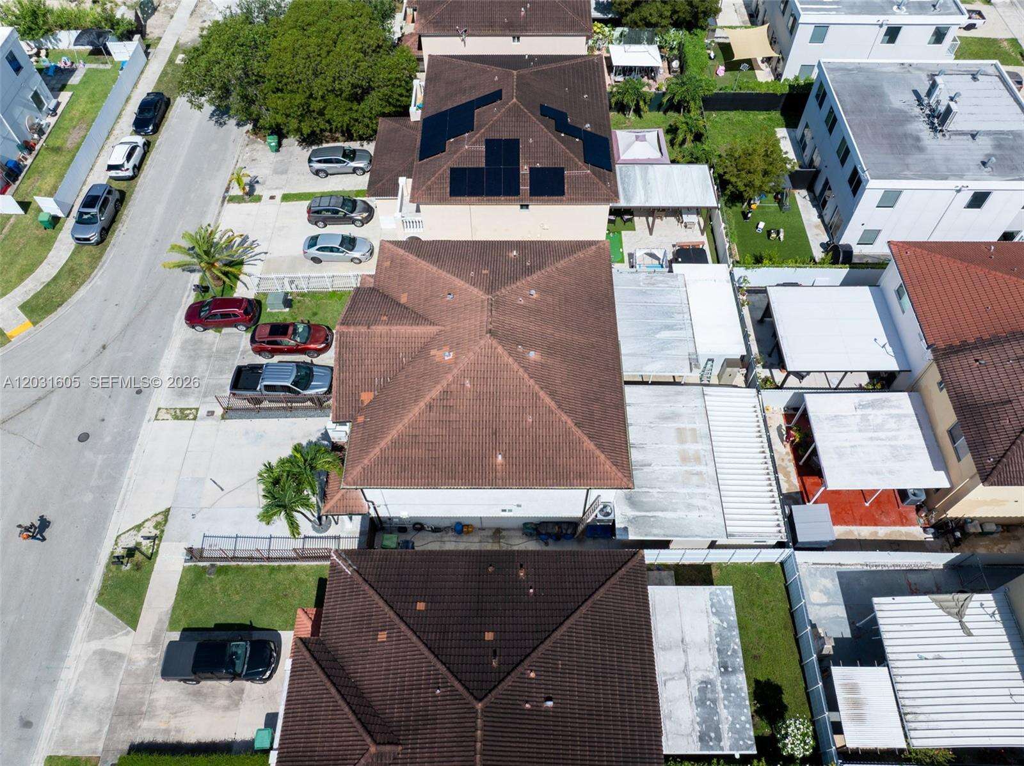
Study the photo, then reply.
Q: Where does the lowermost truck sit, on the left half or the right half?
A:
left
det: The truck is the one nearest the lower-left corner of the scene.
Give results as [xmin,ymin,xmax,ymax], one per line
[160,631,283,684]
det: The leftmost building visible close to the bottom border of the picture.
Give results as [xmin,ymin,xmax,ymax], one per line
[273,547,665,766]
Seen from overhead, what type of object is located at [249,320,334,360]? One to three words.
car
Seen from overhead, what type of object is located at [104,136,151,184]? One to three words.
car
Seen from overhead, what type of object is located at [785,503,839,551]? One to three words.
shed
